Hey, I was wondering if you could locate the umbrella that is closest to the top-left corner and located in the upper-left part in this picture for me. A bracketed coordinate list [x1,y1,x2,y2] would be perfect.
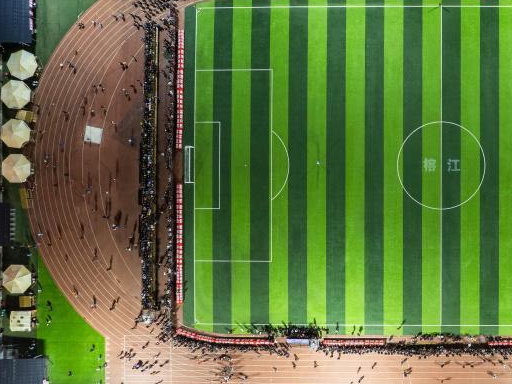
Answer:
[7,49,42,80]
